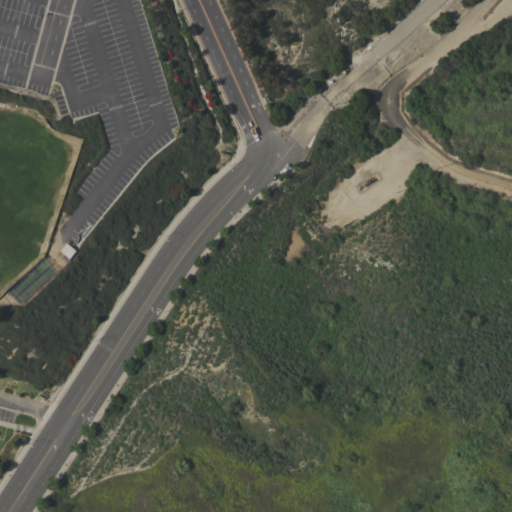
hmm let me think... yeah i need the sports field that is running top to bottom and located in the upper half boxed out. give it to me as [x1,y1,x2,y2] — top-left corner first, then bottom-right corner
[0,103,82,302]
